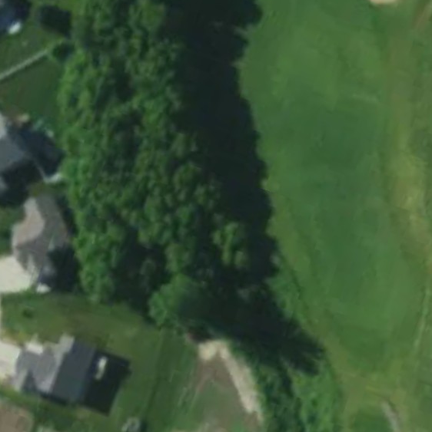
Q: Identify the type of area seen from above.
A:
golf course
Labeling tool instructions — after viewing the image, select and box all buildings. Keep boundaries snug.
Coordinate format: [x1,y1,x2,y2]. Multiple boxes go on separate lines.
[10,332,97,408]
[0,115,25,197]
[6,193,70,282]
